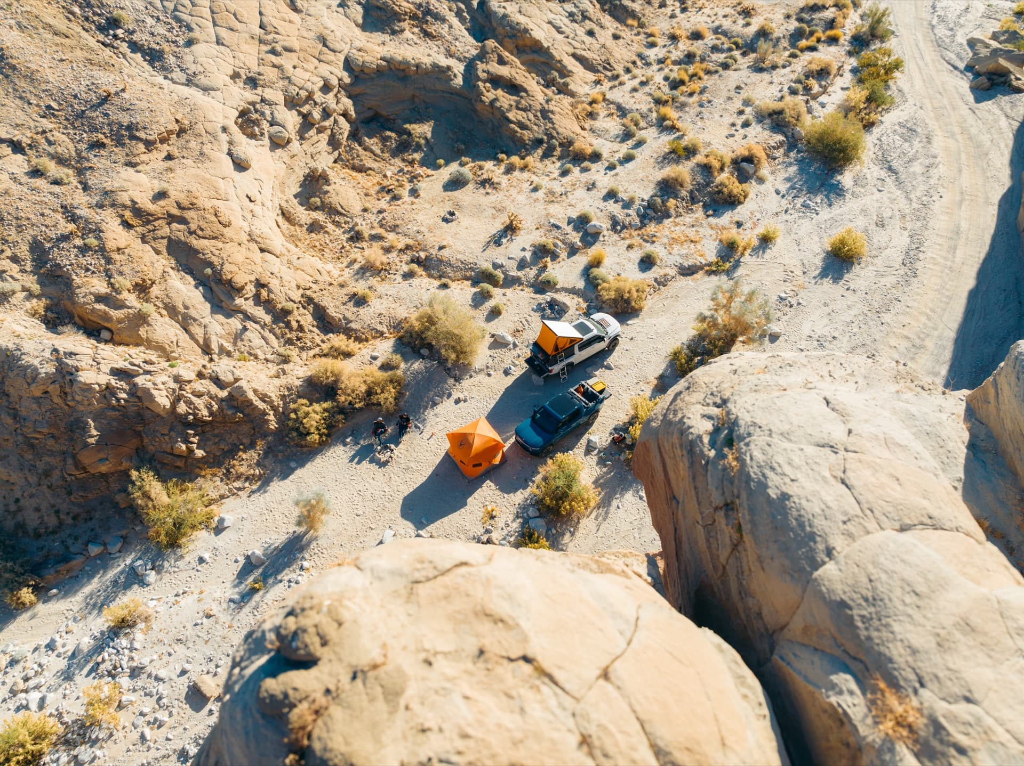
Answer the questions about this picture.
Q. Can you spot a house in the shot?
No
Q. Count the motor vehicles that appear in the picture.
2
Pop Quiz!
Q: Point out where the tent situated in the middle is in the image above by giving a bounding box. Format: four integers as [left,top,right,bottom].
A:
[443,417,510,484]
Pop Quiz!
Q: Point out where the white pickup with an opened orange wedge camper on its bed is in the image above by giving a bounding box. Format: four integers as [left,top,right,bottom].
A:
[523,312,627,375]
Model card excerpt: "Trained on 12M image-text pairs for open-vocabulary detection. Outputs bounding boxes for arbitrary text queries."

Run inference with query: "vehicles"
[523,312,627,375]
[508,380,611,459]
